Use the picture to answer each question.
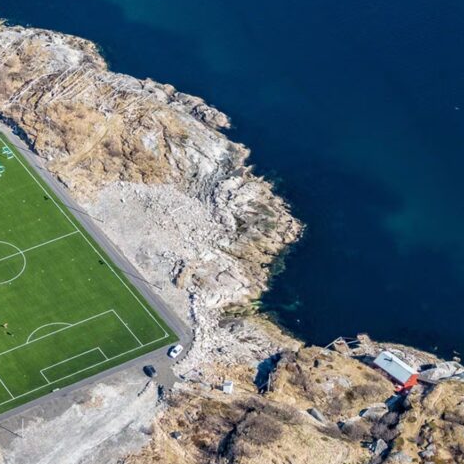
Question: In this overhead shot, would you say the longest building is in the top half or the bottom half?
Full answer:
The bottom half of the photo is where the longest building is.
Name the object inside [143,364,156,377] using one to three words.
vehicle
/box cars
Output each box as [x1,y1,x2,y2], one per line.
[170,344,183,357]
[143,364,156,377]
